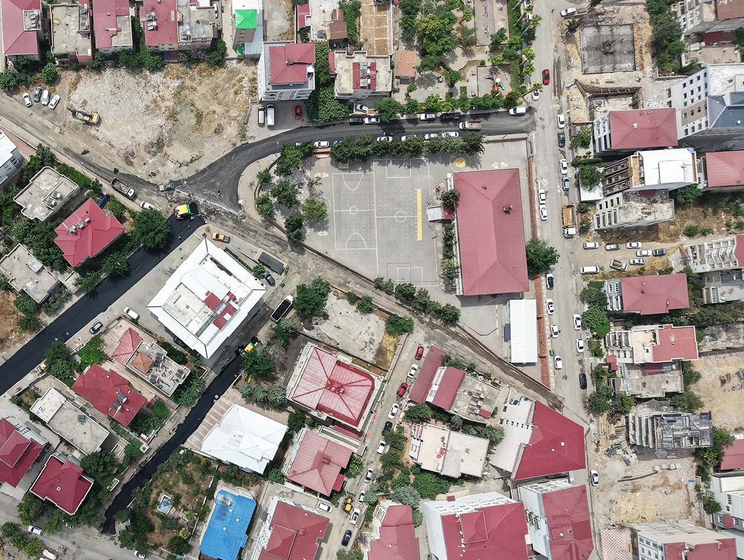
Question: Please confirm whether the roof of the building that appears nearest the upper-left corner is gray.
No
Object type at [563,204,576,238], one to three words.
vehicle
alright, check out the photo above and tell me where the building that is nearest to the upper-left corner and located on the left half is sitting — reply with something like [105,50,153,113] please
[1,0,45,64]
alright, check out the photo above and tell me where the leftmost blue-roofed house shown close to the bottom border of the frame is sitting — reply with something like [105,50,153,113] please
[200,480,258,560]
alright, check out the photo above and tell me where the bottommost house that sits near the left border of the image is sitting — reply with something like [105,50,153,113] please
[30,454,95,515]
